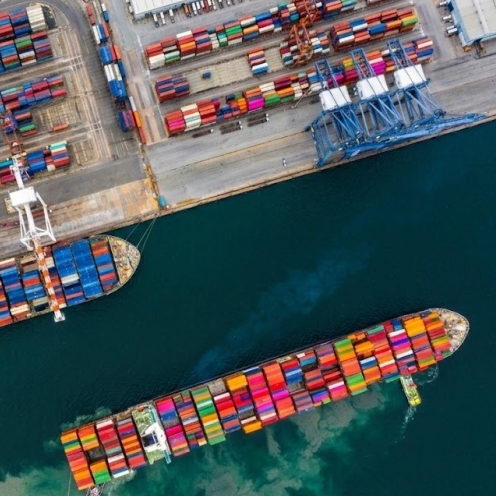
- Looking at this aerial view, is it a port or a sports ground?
port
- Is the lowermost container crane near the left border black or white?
white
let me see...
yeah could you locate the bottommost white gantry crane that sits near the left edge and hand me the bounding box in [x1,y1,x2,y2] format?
[5,158,64,323]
